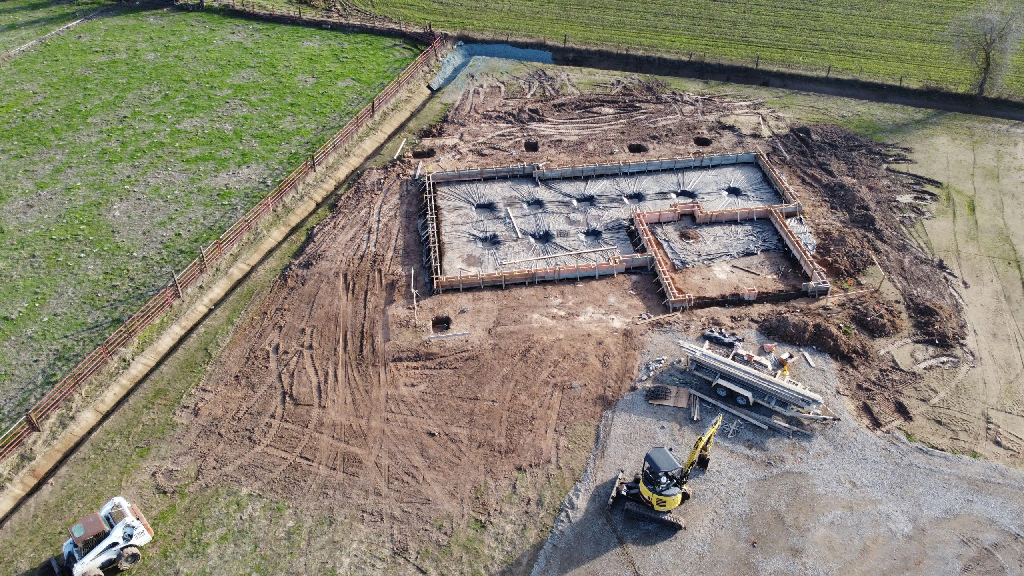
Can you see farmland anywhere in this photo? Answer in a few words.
Yes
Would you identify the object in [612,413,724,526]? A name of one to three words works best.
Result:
work vehicle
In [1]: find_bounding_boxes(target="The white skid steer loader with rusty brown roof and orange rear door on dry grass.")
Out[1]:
[40,502,157,576]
